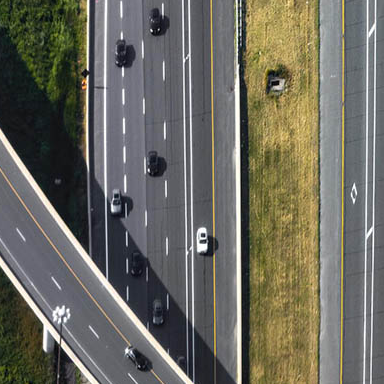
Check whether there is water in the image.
No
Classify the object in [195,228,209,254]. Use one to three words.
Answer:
vehicle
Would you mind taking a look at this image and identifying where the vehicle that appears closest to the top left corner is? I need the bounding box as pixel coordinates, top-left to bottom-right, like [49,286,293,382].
[114,41,127,67]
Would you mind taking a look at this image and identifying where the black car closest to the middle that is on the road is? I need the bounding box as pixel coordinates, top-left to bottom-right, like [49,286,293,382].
[146,152,159,176]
